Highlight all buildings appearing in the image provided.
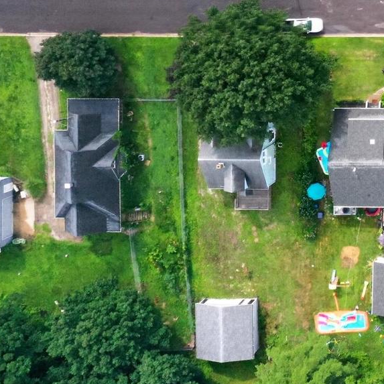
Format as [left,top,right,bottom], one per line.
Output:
[195,299,259,363]
[371,259,384,316]
[197,125,276,192]
[53,98,128,237]
[0,177,15,252]
[329,107,384,209]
